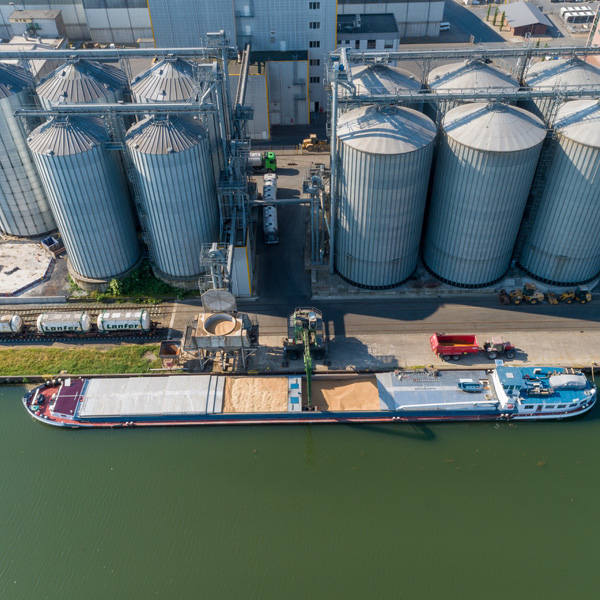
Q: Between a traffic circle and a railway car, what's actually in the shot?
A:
railway car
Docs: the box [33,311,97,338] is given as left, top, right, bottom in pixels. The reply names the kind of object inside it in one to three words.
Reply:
rail car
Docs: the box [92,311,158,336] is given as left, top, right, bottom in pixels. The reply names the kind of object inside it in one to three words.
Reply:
rail car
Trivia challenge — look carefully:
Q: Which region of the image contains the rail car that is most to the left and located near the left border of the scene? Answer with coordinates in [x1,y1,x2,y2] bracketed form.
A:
[0,312,39,338]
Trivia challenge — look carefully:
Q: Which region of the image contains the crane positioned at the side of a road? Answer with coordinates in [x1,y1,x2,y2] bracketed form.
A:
[281,307,331,410]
